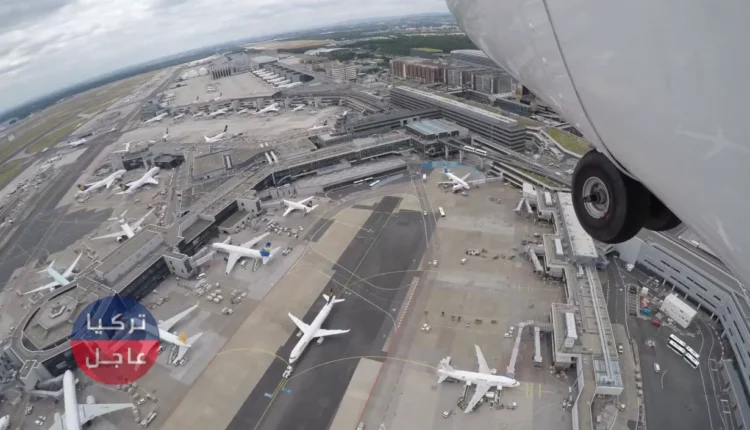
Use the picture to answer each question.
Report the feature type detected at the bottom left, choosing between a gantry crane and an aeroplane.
aeroplane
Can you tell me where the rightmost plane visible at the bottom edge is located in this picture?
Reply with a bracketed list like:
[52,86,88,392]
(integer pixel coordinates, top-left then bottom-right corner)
[438,341,518,409]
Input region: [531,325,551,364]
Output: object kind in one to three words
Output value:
jet bridge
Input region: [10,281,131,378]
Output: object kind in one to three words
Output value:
building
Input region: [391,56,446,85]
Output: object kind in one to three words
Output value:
building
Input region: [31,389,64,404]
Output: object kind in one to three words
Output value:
jet bridge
